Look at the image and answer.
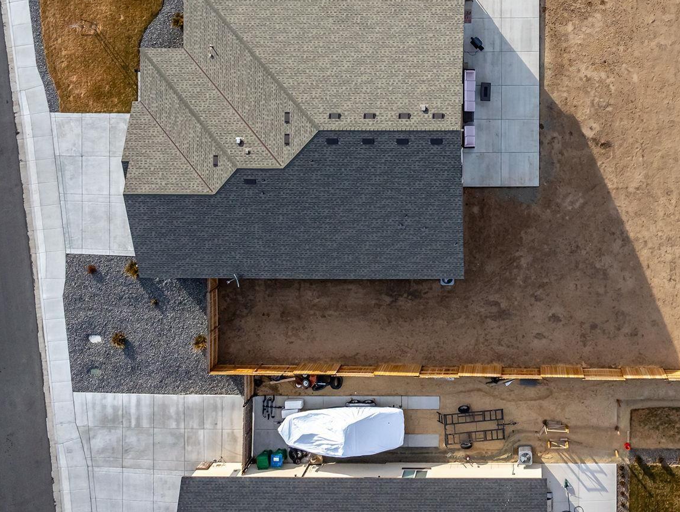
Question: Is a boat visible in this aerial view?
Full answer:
Yes, there is a boat in the image.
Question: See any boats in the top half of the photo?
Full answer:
No, no boat is visible in the top half of the photo.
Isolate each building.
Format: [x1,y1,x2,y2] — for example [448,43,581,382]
[122,0,465,288]
[175,461,550,512]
